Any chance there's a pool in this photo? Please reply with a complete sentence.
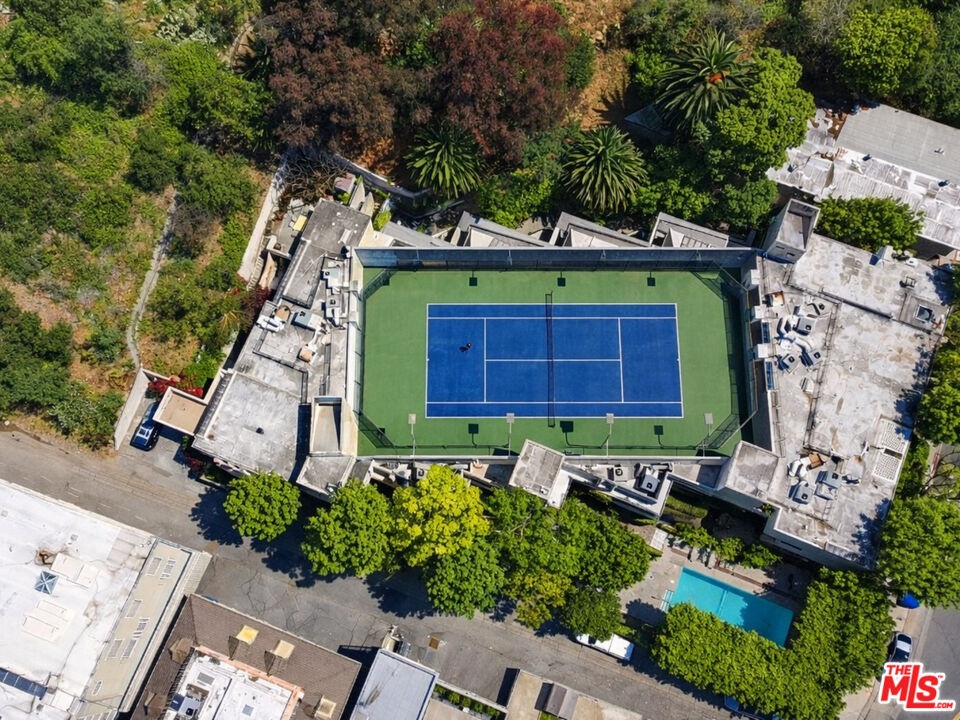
Yes, the photo shows a pool.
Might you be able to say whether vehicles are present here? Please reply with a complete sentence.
Yes, a vehicle appears in the view.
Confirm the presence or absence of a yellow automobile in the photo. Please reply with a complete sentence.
No, no yellow automobile is visible in the view.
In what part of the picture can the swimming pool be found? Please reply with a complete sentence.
The swimming pool sits in the bottom right section of the image.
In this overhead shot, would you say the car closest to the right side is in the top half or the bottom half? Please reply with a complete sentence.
Seen from above, the car closest to the right side lies in the bottom half of the view.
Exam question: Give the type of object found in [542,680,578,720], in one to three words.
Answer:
shed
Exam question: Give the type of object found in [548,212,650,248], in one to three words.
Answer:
house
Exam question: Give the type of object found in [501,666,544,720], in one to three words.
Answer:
building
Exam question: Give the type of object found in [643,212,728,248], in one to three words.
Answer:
house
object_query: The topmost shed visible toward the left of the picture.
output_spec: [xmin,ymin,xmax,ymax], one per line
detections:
[334,172,357,195]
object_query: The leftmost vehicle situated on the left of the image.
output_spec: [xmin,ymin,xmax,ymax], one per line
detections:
[128,399,163,454]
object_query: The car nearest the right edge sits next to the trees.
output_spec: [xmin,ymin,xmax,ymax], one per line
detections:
[884,626,917,681]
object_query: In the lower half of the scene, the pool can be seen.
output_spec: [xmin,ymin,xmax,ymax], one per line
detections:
[660,562,800,643]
